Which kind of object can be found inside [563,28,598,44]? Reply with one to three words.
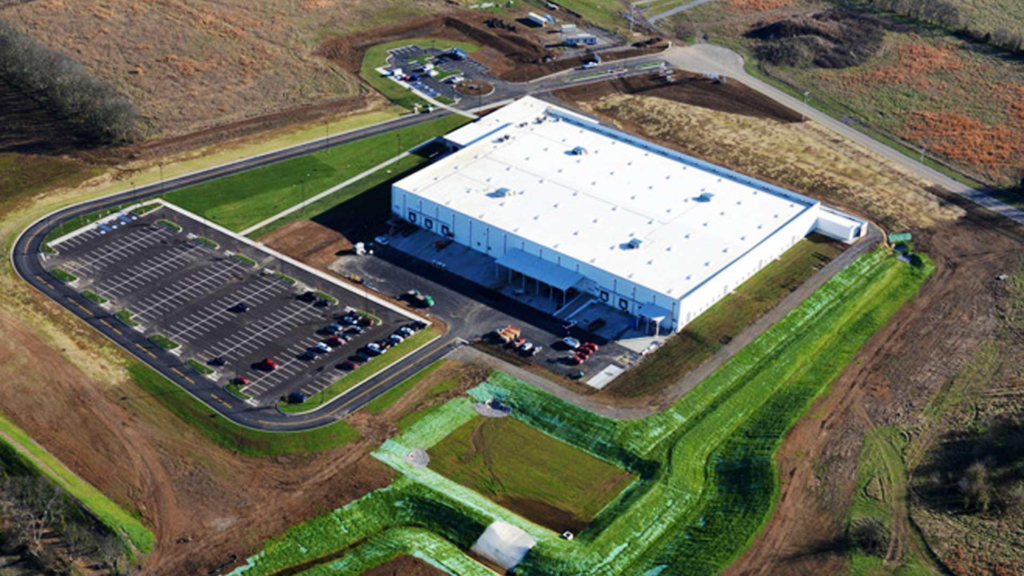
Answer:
building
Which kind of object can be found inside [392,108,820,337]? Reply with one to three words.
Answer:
warehouse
